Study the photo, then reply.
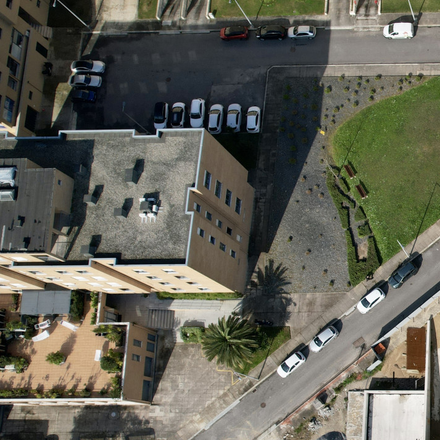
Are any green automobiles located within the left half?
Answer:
No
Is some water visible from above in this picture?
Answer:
No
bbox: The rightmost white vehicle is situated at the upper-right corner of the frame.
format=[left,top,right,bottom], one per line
[384,21,415,39]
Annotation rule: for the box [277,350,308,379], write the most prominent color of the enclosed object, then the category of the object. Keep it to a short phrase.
white car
